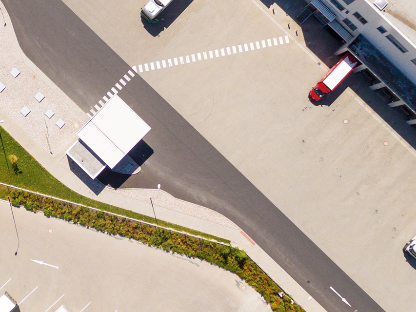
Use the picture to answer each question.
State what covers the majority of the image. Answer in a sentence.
For the most part, this view shows paved ground.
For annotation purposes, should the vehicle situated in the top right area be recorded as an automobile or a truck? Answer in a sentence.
I'd identify the vehicle situated in the top right area as a truck.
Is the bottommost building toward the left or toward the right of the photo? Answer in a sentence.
The bottommost building is on the left side of the image.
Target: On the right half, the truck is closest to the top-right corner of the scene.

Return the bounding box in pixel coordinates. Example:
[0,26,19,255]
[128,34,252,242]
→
[310,54,358,102]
